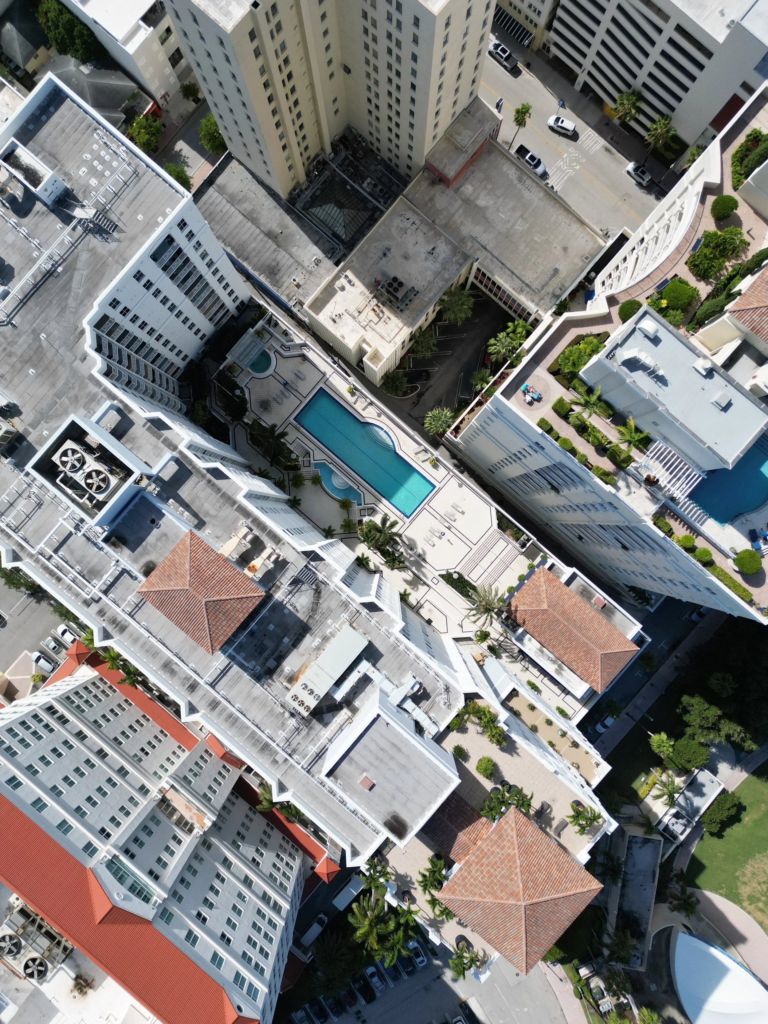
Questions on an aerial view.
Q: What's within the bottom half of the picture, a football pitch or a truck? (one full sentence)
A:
The feature located within the bottom half of the picture is a truck.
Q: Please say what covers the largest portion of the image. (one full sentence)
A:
The largest share of the image is taken up by buildings.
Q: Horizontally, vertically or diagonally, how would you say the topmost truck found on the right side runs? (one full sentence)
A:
In this picture, the topmost truck found on the right side lies diagonally.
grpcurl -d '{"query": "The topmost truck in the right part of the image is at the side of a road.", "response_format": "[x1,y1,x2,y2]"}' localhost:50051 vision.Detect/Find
[486,37,524,76]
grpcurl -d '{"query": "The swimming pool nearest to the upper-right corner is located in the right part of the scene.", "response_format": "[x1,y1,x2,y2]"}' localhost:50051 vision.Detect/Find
[685,423,768,535]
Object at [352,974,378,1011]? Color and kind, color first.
black car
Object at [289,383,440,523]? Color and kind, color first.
blue swimming pool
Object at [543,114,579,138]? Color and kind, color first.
white car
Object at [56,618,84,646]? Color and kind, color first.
white car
